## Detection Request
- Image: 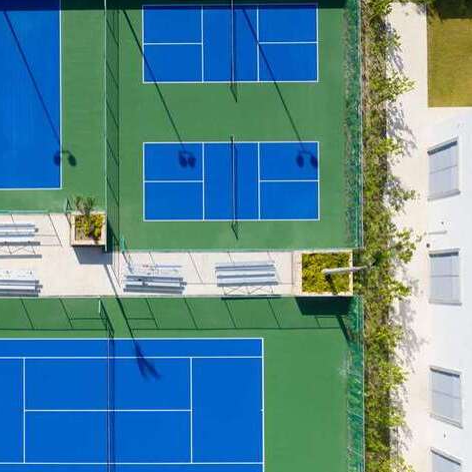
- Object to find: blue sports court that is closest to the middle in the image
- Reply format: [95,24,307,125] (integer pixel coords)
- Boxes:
[143,142,320,220]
